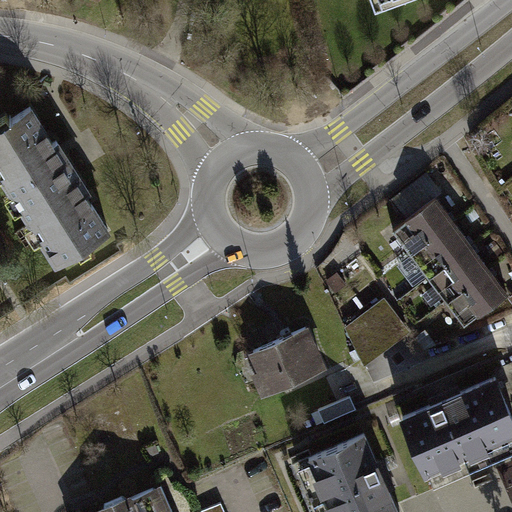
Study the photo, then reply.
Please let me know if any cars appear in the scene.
Yes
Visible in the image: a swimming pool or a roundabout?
roundabout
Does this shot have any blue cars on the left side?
Yes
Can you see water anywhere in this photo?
No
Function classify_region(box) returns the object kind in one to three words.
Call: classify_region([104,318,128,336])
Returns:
car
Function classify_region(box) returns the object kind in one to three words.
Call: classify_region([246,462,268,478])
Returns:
car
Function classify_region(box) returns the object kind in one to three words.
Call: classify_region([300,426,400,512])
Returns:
house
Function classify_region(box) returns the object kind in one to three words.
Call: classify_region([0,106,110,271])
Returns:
building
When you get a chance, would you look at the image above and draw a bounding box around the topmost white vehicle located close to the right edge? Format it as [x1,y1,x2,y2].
[486,320,506,334]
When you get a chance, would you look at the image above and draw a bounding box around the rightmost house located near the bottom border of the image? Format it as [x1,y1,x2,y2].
[400,373,512,492]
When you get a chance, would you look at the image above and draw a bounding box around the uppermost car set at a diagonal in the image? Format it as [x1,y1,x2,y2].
[412,102,434,122]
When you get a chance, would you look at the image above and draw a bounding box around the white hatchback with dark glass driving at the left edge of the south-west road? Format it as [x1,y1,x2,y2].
[16,374,37,391]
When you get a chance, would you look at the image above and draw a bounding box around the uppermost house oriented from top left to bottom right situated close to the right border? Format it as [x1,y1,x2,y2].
[393,198,508,329]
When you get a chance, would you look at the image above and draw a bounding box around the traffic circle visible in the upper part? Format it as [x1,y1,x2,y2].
[191,130,329,268]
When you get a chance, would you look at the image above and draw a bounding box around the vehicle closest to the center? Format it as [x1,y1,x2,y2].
[226,250,244,264]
